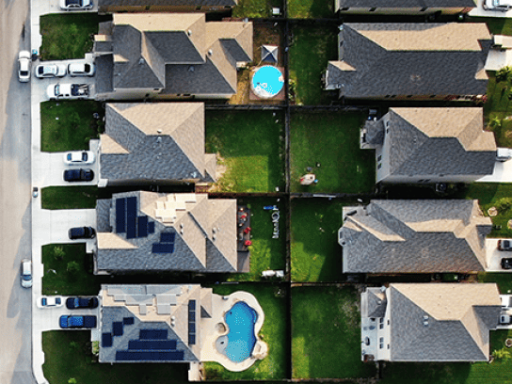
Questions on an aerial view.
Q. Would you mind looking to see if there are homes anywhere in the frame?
Yes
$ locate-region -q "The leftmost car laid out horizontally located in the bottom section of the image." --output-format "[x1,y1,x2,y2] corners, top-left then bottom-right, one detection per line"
[34,294,65,309]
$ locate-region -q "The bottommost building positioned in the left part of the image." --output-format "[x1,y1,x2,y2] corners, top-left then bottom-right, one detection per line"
[99,284,213,363]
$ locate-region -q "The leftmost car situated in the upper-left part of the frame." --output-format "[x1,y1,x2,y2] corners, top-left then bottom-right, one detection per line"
[16,51,31,82]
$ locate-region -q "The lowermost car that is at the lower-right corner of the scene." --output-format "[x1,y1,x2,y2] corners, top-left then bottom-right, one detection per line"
[497,312,512,326]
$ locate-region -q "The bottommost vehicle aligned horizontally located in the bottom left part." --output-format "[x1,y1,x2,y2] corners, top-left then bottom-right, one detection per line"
[59,313,97,329]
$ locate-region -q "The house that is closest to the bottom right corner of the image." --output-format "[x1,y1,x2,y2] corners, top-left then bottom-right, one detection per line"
[363,283,503,360]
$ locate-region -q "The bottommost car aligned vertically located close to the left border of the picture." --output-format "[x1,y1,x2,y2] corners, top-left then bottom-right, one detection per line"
[19,259,33,287]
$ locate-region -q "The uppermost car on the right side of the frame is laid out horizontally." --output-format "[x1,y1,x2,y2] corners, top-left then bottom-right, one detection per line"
[481,0,512,13]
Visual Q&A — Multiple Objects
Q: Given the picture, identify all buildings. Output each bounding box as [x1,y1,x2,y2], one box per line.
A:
[325,21,490,99]
[339,198,493,273]
[363,283,503,360]
[95,12,253,99]
[100,101,215,186]
[97,0,235,11]
[99,284,213,363]
[95,190,237,273]
[360,106,500,183]
[332,0,476,13]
